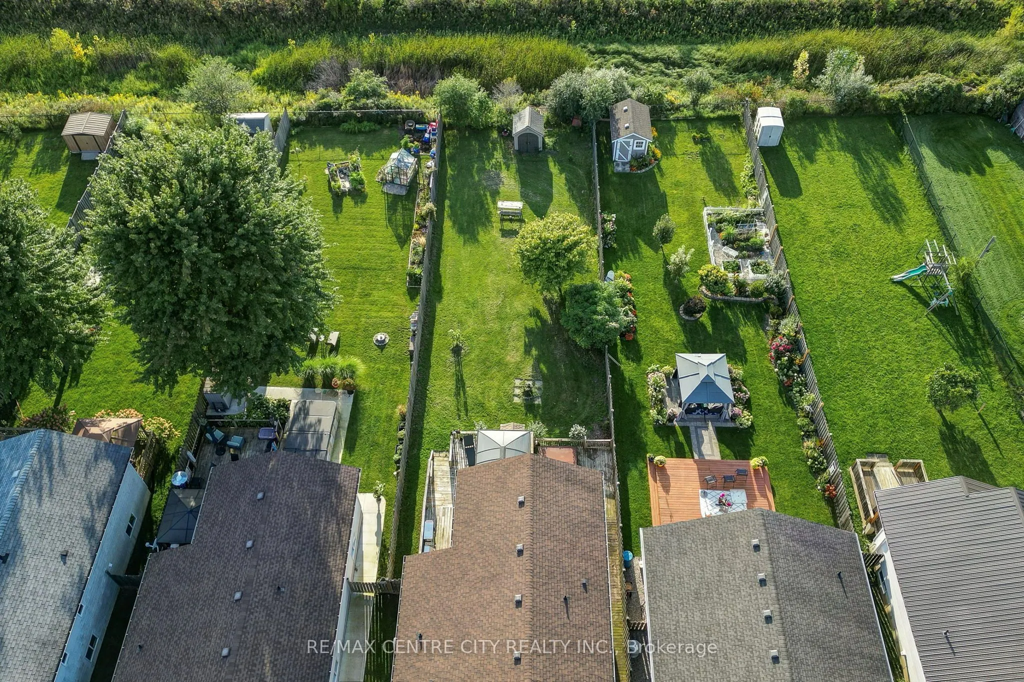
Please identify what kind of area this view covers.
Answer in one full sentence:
This looks like a residential area.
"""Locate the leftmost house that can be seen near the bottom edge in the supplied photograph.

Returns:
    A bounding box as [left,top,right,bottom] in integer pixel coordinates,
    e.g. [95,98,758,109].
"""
[0,429,151,682]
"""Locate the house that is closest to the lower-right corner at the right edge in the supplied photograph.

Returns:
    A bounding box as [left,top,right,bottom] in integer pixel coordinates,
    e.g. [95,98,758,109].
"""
[868,476,1024,682]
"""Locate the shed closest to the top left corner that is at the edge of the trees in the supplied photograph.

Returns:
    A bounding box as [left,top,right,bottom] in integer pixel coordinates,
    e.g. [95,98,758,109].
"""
[58,98,118,152]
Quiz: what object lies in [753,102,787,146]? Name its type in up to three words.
shed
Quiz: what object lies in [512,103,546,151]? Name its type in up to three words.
shed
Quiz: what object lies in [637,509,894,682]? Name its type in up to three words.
house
